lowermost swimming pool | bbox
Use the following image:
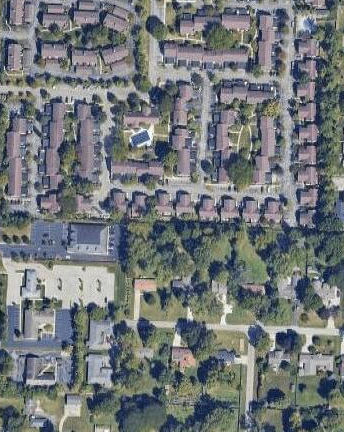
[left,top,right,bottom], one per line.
[129,128,151,147]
